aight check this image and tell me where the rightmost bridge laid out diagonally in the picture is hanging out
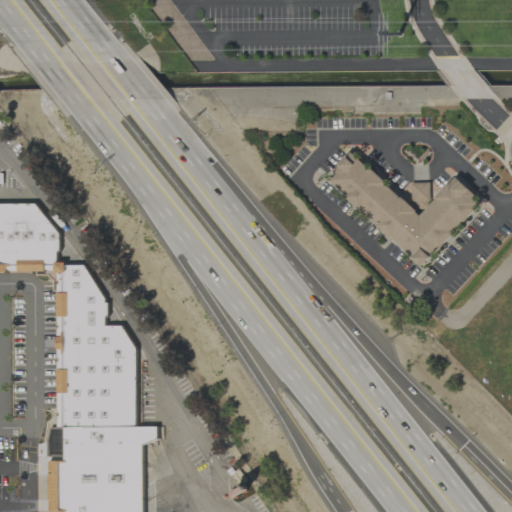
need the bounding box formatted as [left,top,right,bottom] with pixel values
[434,56,502,100]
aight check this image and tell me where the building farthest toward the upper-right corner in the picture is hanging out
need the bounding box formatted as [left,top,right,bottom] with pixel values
[330,154,476,268]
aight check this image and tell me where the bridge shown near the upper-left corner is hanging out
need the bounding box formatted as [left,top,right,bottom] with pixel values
[0,22,182,112]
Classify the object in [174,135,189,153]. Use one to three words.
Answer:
vehicle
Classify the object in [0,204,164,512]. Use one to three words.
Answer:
building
